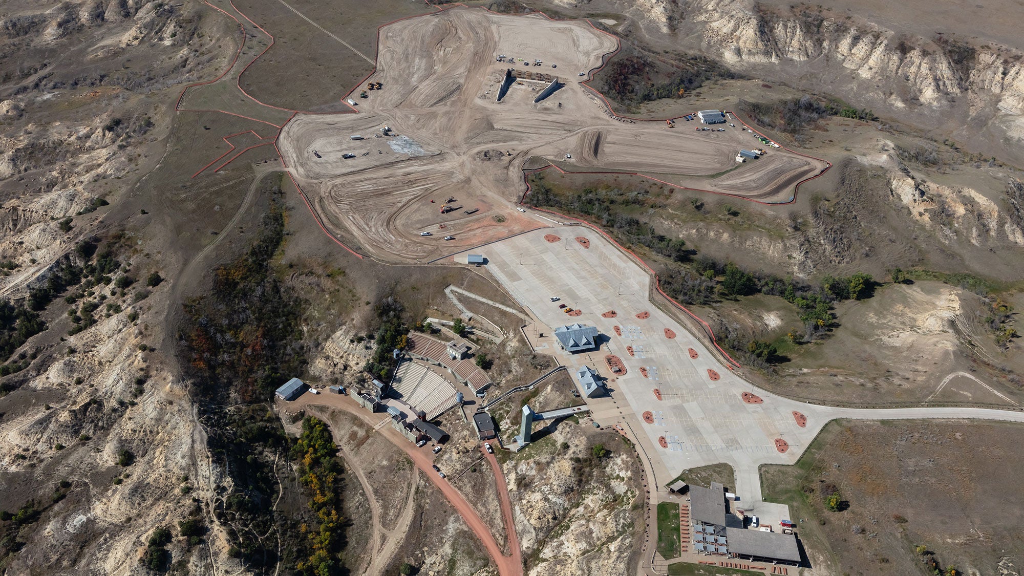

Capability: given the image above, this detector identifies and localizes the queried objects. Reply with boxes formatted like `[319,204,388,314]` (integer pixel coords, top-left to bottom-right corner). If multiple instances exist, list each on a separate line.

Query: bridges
[531,404,591,441]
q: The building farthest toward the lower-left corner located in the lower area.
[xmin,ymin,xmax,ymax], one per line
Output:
[275,376,305,401]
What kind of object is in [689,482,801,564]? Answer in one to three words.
building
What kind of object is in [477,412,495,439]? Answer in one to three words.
building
